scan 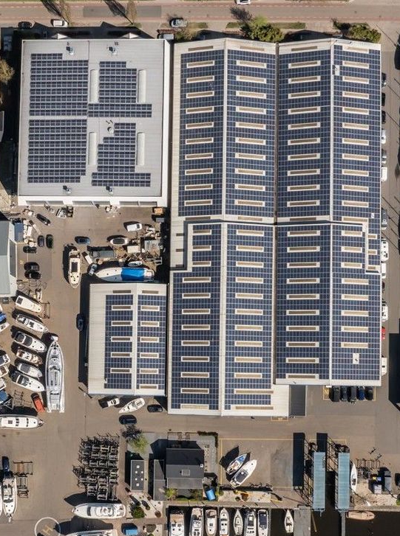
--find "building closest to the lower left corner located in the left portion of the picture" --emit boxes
[130,459,145,492]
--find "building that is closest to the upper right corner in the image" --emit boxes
[171,36,381,225]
